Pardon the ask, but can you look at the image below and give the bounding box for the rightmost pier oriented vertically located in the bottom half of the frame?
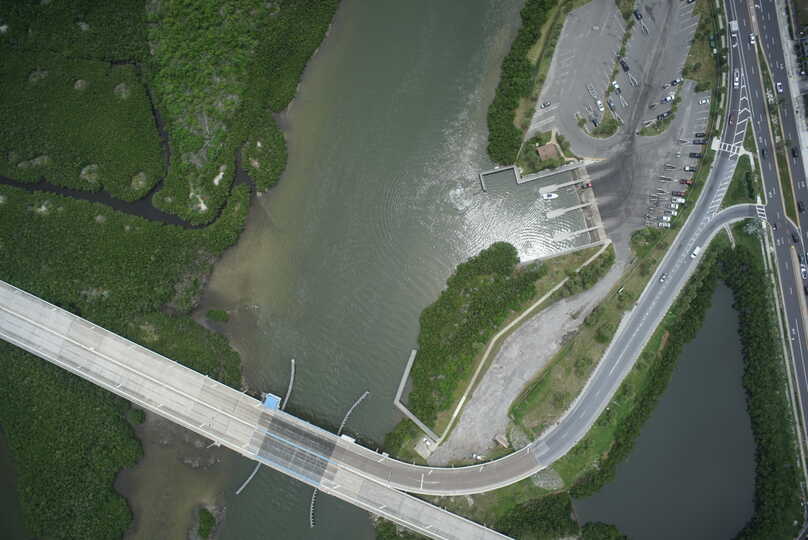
[395,348,439,443]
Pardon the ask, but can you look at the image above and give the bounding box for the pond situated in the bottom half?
[574,281,757,540]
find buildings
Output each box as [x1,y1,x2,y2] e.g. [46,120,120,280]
[539,141,559,159]
[264,391,282,410]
